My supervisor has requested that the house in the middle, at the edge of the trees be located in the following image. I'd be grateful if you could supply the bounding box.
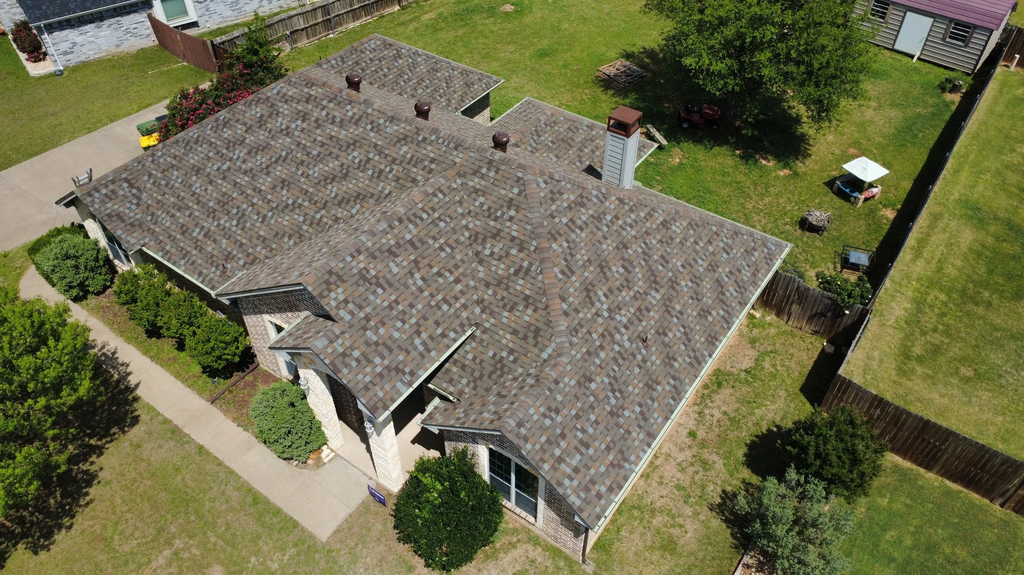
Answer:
[53,33,795,575]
